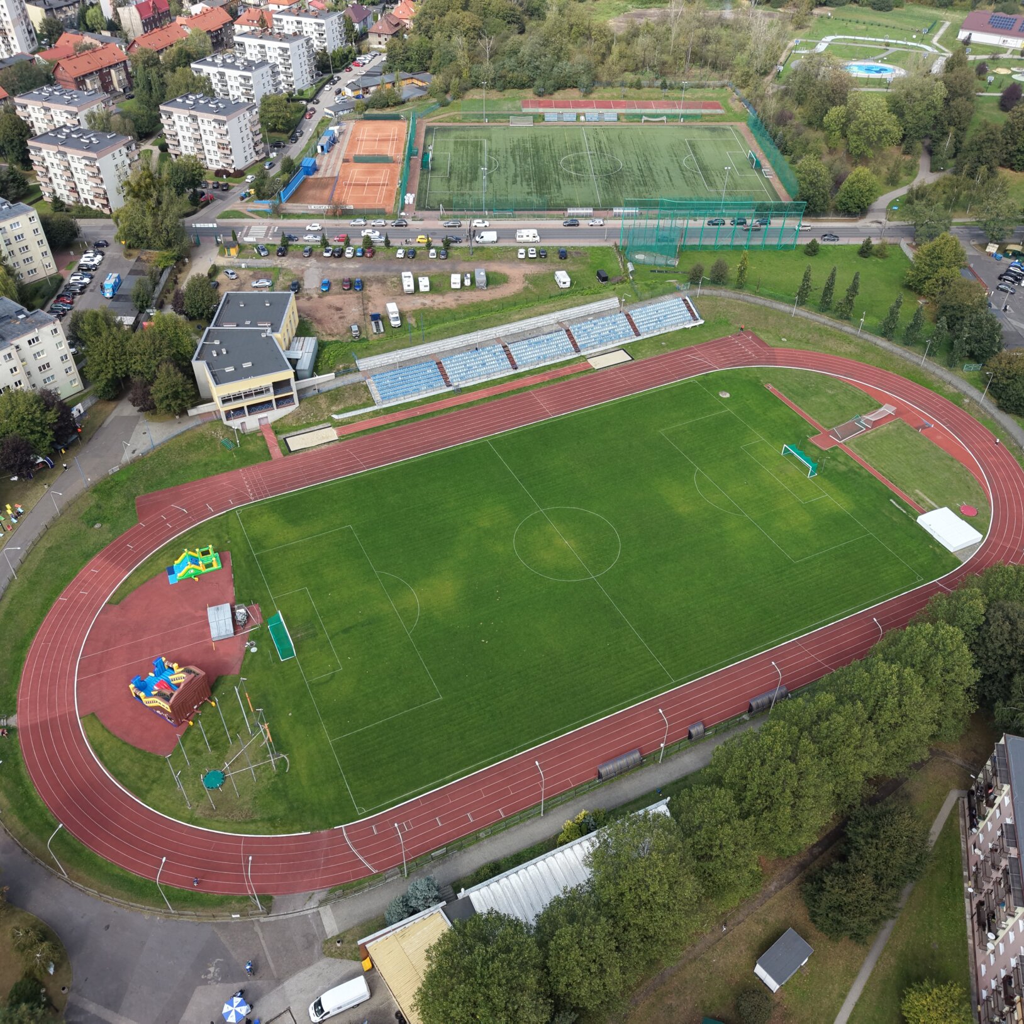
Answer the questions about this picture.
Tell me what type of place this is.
sports ground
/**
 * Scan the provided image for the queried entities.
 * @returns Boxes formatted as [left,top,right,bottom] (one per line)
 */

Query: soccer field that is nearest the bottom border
[237,380,922,813]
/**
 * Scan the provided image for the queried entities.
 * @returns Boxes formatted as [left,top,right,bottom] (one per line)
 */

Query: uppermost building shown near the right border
[957,10,1024,49]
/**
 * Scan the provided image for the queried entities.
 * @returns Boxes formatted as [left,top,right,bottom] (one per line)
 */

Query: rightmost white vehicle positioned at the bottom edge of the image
[310,977,369,1022]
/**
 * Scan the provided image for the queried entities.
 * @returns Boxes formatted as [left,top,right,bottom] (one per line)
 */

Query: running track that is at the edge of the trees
[15,348,1024,897]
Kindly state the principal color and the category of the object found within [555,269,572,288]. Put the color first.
white camper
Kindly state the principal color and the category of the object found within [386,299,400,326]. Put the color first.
white vehicle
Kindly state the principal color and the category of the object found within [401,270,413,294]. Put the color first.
white vehicle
